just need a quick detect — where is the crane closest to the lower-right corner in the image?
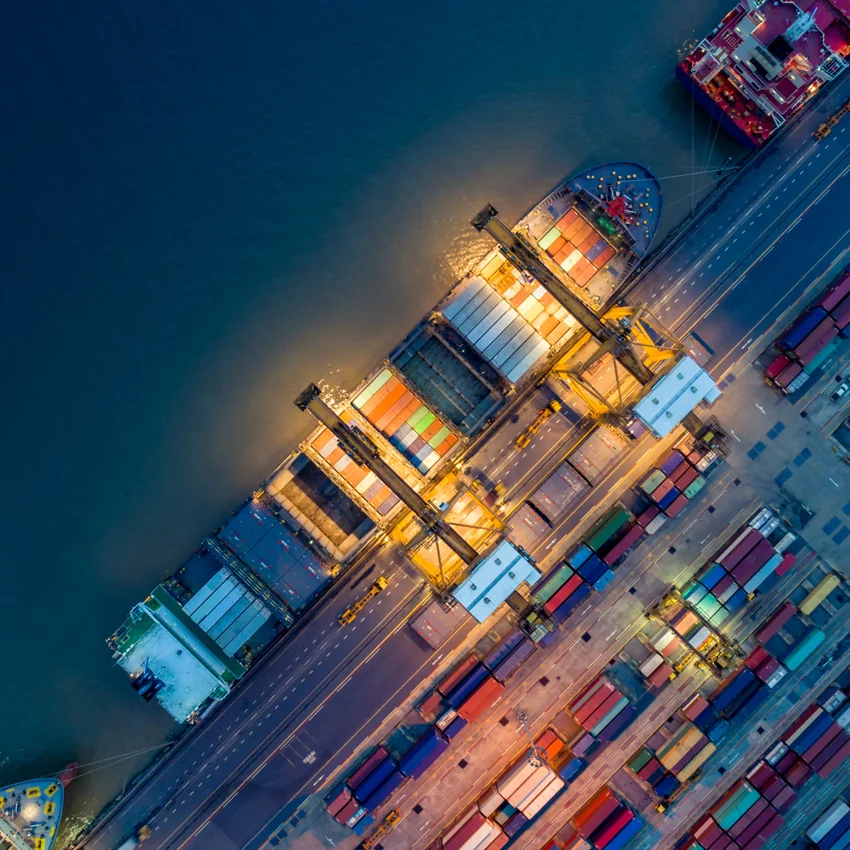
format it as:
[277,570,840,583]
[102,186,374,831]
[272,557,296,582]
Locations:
[642,584,748,685]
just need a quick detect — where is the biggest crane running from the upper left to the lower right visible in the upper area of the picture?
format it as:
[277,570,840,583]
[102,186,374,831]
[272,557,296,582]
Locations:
[471,204,721,445]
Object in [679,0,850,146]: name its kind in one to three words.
ship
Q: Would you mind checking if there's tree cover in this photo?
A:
No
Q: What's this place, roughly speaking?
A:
port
